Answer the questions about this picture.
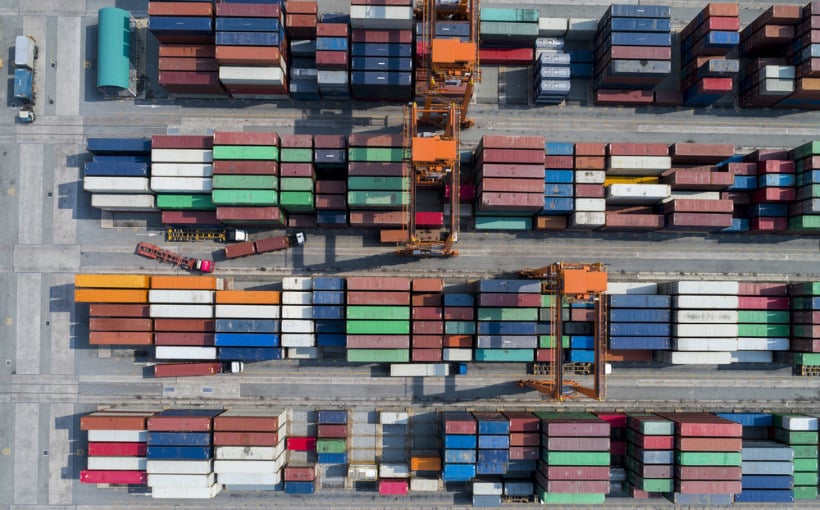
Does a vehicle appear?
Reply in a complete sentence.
Yes, there is a vehicle in the image.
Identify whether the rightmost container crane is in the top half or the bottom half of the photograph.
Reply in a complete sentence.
The bottom half of the photo is where the rightmost container crane is.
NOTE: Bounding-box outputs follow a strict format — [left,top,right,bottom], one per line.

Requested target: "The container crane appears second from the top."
[395,101,462,258]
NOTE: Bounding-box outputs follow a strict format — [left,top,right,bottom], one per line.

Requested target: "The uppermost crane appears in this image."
[412,0,481,128]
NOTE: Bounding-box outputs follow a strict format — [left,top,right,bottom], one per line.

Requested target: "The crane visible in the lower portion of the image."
[513,262,609,402]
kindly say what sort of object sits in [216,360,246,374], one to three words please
vehicle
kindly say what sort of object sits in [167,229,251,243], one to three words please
vehicle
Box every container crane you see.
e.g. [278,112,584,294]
[412,0,481,128]
[513,262,609,402]
[395,101,462,258]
